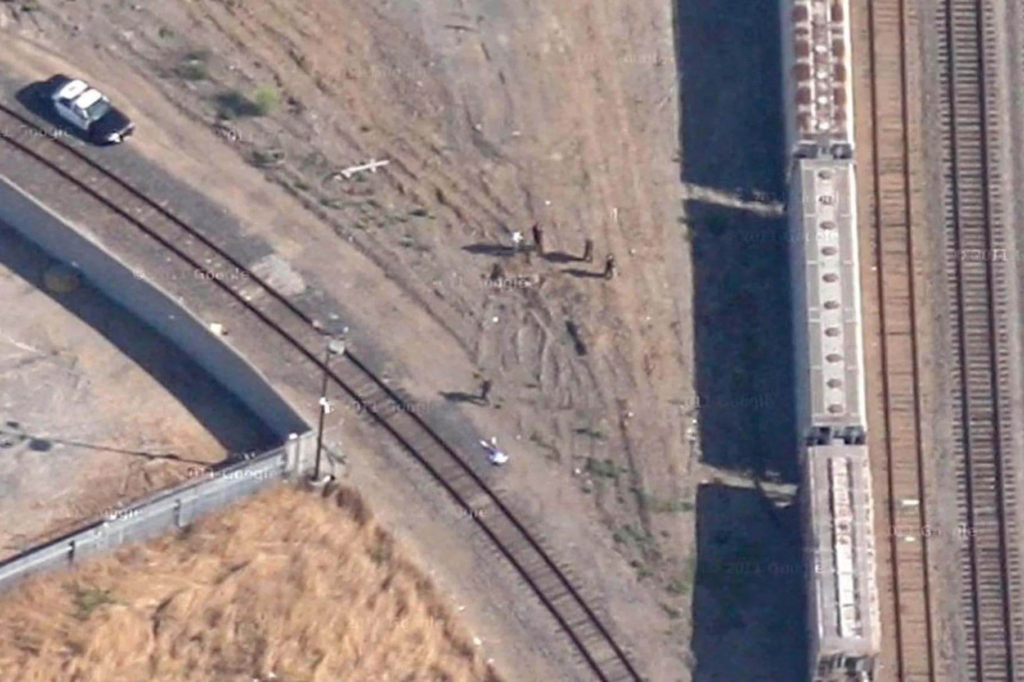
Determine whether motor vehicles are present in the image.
Yes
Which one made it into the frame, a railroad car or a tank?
railroad car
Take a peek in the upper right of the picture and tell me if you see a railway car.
Yes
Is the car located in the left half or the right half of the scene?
left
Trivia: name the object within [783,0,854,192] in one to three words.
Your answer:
rail car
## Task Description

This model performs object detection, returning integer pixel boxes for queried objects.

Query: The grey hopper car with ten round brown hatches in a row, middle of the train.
[790,157,869,480]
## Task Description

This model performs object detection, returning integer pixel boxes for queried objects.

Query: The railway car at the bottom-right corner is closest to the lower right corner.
[804,443,884,682]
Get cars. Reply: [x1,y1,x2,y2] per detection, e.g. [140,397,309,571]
[33,69,133,144]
